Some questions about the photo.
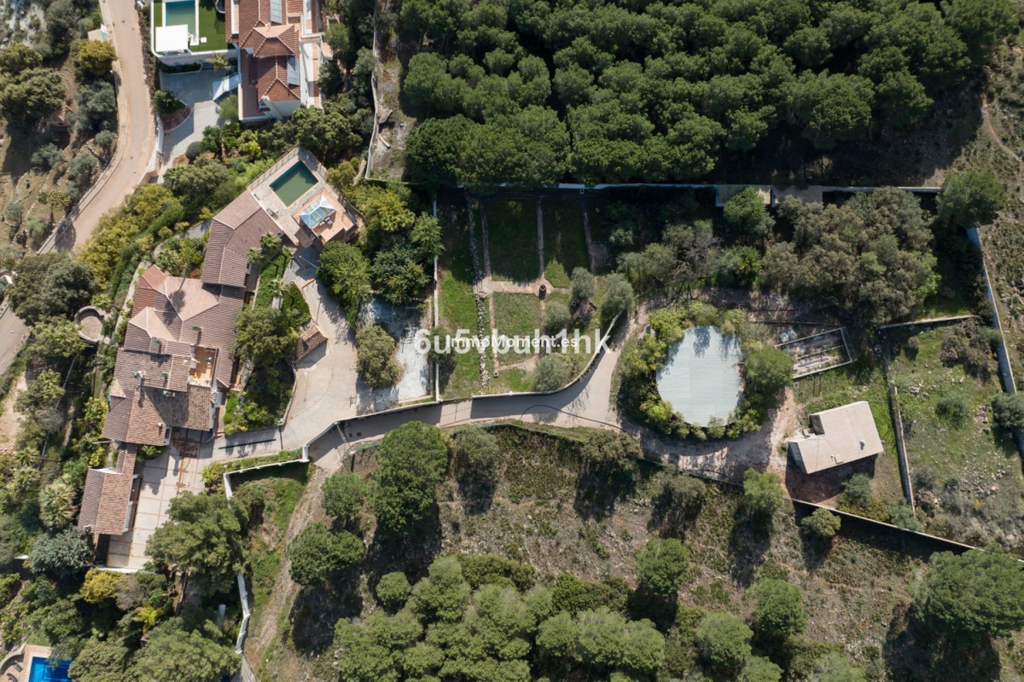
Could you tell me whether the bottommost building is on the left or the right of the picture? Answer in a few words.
left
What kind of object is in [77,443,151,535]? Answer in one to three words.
building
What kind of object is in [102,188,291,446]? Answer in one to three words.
house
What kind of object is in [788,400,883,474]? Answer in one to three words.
shed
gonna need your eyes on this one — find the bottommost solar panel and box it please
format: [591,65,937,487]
[287,56,299,85]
